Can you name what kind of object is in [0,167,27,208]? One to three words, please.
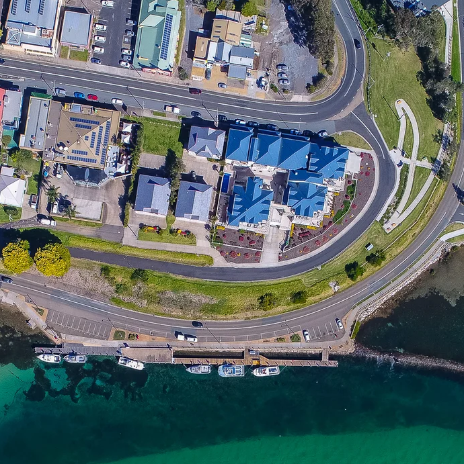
house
